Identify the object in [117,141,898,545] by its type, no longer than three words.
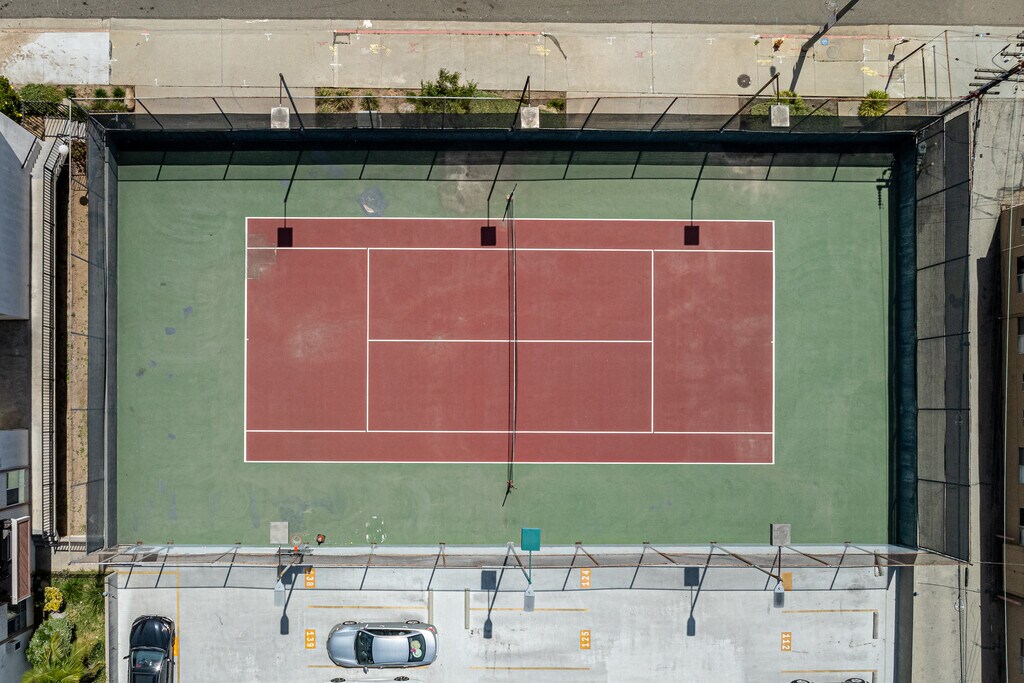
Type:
tennis court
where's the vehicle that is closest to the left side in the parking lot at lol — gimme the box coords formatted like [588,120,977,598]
[122,615,175,683]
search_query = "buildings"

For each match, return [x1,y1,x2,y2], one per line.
[995,198,1024,683]
[0,112,53,683]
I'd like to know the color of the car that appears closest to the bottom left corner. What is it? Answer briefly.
black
